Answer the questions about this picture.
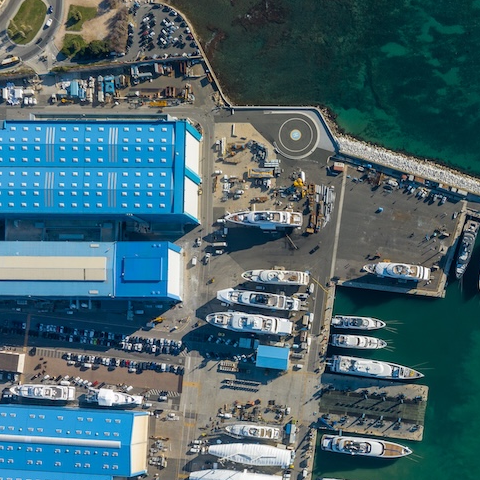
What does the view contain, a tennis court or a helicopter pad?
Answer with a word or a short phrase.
helicopter pad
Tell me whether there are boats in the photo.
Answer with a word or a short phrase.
Yes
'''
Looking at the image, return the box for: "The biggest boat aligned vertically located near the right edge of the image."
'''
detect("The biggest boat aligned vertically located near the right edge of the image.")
[456,212,478,282]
